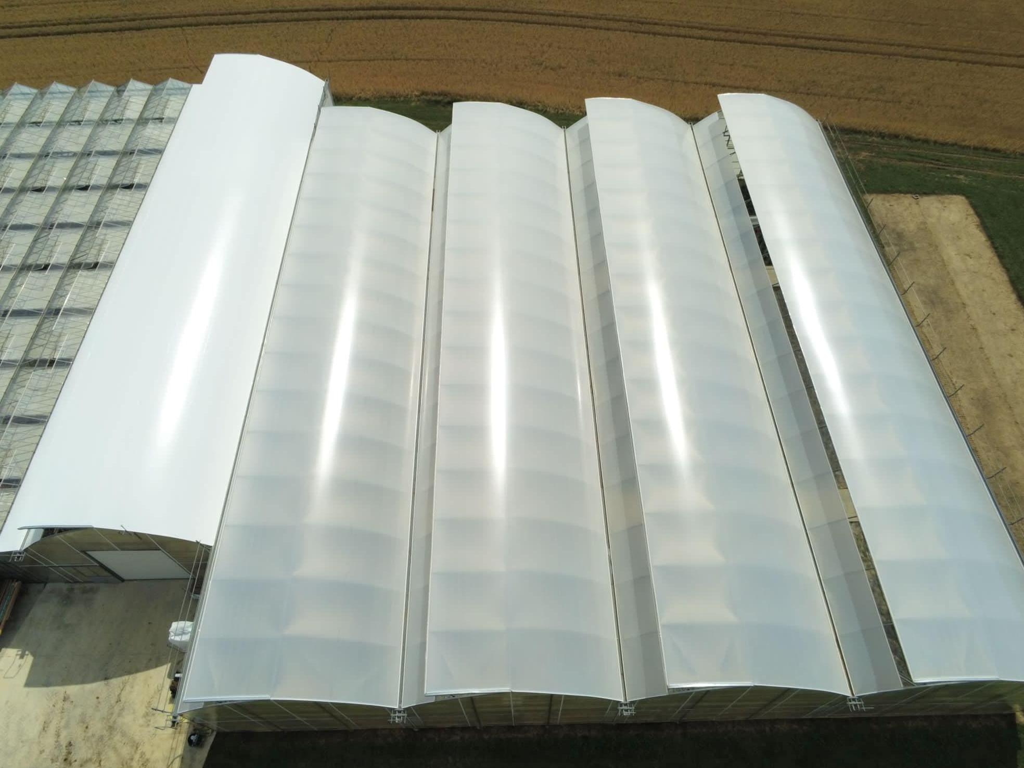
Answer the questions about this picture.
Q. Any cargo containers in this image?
No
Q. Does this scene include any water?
No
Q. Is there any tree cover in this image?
No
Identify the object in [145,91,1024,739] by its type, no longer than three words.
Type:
greenhouse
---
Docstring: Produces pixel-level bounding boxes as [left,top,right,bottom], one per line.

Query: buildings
[0,78,193,585]
[145,91,1024,739]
